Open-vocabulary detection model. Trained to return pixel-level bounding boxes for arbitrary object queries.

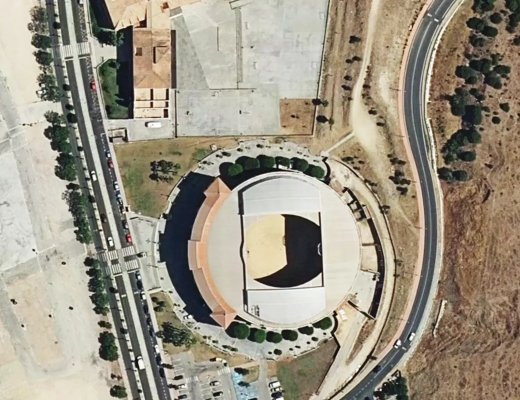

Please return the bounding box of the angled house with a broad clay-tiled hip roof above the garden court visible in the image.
[105,0,147,29]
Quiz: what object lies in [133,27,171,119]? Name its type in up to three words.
house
